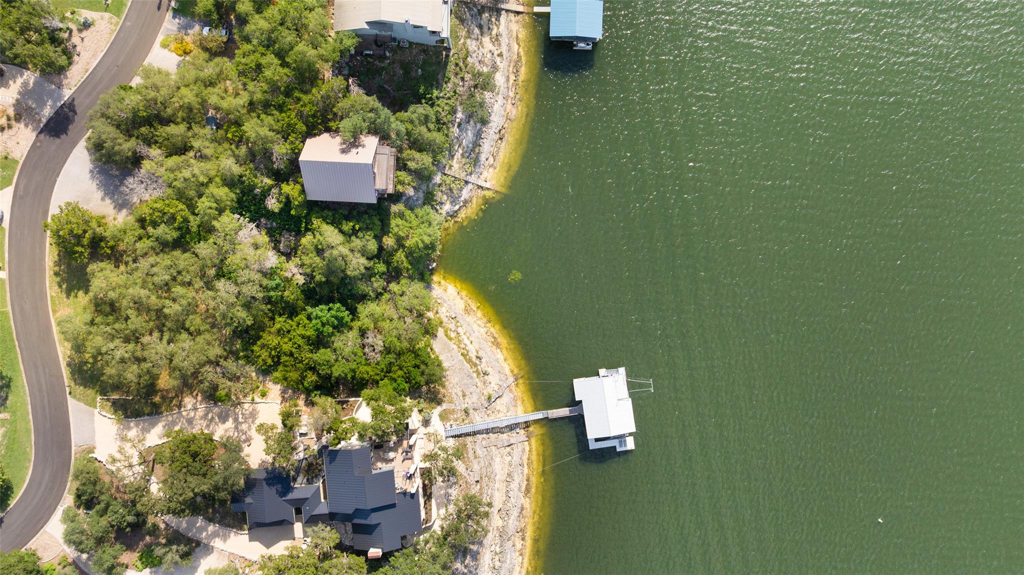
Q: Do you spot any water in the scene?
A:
Yes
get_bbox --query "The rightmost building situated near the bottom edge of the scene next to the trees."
[323,444,422,560]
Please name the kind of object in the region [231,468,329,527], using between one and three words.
building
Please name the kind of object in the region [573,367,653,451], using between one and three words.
pier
